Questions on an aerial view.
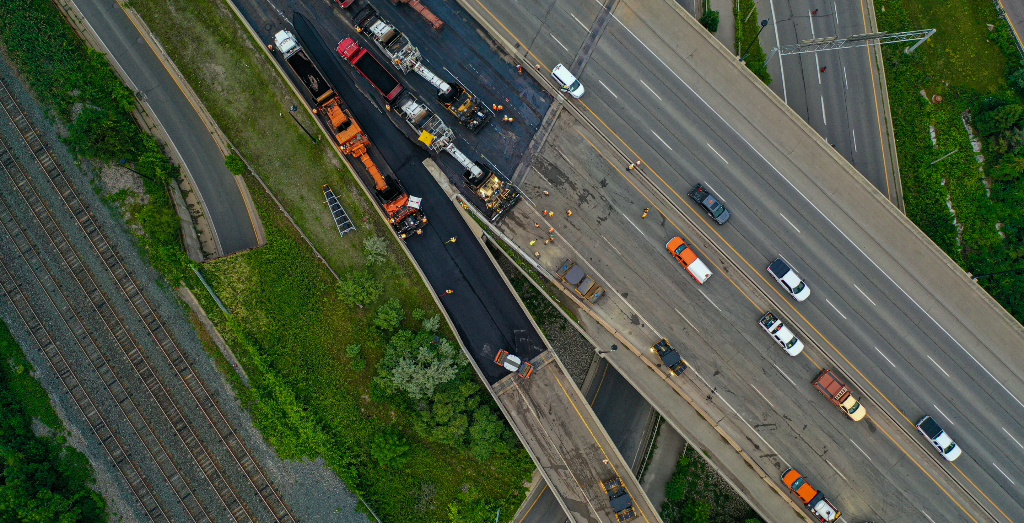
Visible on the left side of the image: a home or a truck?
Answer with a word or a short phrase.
truck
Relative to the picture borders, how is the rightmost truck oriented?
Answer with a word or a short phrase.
diagonally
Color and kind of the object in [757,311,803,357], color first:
white truck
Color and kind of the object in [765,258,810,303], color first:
white truck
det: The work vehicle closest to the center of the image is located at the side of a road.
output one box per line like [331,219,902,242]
[555,258,607,306]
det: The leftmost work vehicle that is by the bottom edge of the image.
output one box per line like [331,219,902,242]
[599,476,637,523]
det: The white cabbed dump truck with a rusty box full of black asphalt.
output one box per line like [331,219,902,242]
[268,26,334,104]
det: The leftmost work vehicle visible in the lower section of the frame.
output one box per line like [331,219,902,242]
[493,349,535,379]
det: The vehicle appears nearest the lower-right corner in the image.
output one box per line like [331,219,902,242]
[915,415,960,461]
